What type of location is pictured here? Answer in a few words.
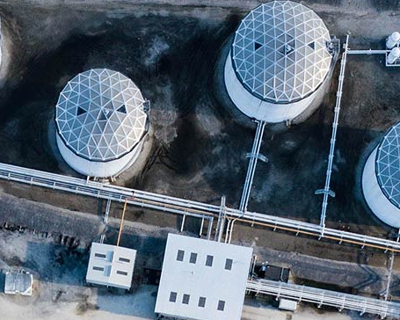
industrial area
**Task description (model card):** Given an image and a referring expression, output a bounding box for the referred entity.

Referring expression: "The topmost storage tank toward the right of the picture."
[224,0,340,122]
